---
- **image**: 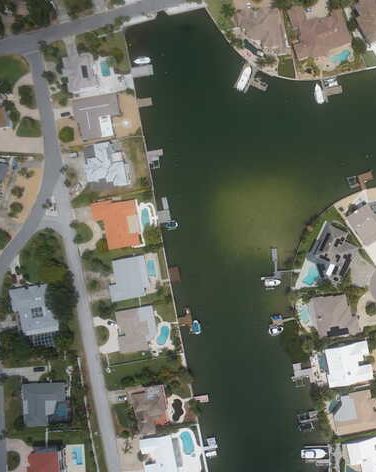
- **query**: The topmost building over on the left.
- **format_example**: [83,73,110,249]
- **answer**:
[62,52,98,92]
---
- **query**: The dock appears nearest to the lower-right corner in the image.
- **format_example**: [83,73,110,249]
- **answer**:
[303,443,333,472]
